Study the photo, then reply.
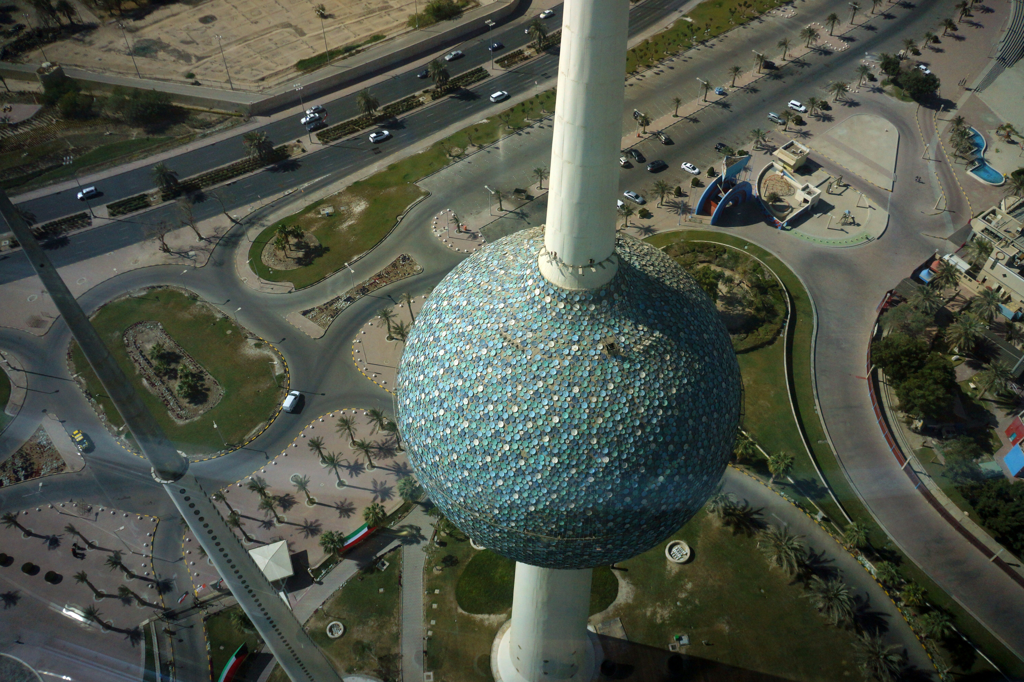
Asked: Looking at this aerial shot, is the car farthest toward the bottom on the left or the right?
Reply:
left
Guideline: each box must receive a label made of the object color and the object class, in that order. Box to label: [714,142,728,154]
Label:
black vehicle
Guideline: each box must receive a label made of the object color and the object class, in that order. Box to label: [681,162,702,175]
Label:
white vehicle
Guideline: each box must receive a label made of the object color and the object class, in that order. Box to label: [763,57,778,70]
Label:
black vehicle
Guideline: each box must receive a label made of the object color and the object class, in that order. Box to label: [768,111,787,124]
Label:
gray vehicle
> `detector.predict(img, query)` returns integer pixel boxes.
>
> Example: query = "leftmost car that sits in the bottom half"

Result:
[67,425,90,451]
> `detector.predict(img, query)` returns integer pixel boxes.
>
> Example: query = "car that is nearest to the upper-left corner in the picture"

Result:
[78,187,98,199]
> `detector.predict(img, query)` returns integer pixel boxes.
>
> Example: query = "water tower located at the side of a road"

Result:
[389,0,748,682]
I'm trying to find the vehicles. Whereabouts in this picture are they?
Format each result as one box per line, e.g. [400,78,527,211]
[78,187,98,199]
[540,9,554,18]
[446,50,462,59]
[308,121,326,132]
[647,160,667,171]
[416,68,433,78]
[681,162,702,175]
[489,42,504,50]
[714,142,728,154]
[945,250,978,271]
[524,24,538,33]
[763,57,778,70]
[301,113,320,124]
[67,425,90,451]
[768,111,787,124]
[283,390,300,410]
[790,100,807,111]
[632,107,643,121]
[624,192,645,204]
[369,130,390,142]
[657,131,673,145]
[490,91,509,102]
[306,105,323,114]
[615,198,625,208]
